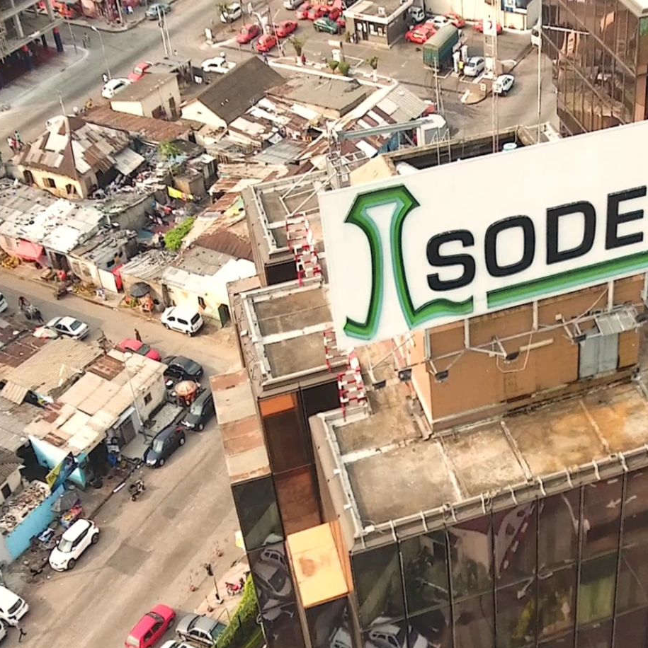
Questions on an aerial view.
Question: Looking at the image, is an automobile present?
Yes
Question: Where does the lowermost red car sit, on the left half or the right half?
left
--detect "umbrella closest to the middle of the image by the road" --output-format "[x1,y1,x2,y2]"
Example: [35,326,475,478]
[172,382,199,402]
